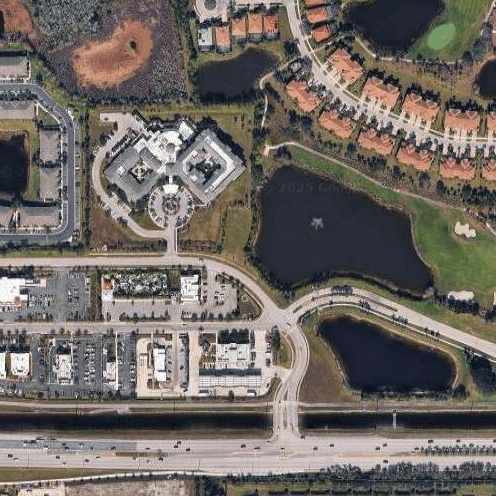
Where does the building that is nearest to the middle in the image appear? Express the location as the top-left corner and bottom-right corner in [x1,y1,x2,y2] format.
[181,275,199,302]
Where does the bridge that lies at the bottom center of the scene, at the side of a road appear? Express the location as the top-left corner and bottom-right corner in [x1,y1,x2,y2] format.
[271,396,300,438]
